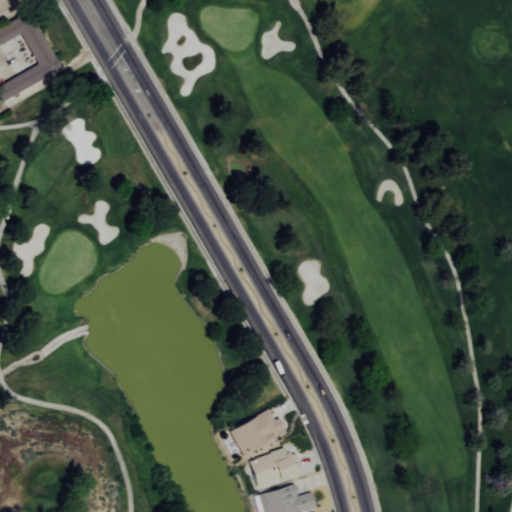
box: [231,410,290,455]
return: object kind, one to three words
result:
house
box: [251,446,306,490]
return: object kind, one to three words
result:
house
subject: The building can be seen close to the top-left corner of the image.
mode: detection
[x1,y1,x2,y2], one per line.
[0,11,62,102]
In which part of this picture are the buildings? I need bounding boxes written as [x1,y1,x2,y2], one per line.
[258,486,317,512]
[251,446,306,490]
[231,410,290,455]
[0,11,62,102]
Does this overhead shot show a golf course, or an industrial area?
golf course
